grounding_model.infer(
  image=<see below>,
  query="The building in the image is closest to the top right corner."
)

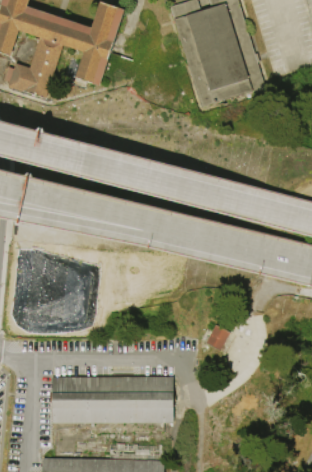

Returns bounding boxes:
[172,0,264,111]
